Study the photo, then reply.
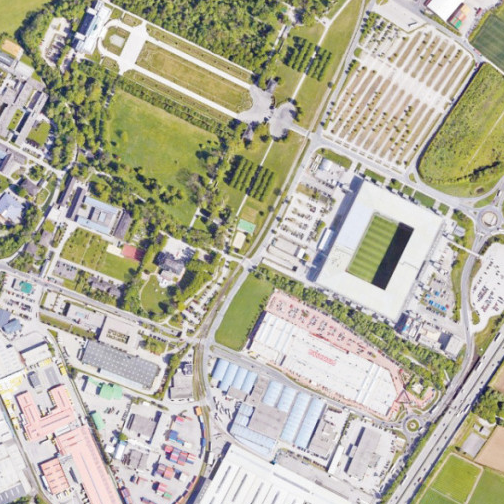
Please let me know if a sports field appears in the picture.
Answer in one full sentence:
Yes, a sports field is visible in the scene.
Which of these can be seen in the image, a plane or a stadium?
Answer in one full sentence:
This aerial view contains a stadium.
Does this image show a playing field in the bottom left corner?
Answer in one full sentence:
No, I can find no playing field in the bottom left corner.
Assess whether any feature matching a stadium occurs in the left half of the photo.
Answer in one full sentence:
No, no stadium is visible in the left half of the photo.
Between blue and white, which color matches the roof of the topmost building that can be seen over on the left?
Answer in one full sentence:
The roof of the topmost building that can be seen over on the left is white.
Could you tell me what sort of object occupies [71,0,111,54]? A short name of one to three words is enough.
building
